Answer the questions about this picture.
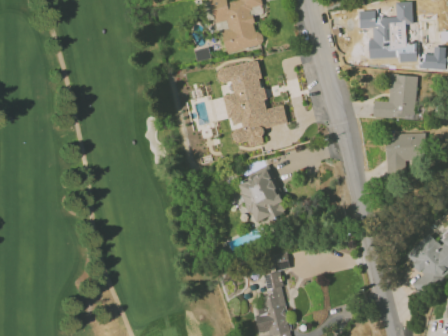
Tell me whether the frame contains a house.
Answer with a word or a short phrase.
Yes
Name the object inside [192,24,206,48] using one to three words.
swimming pool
